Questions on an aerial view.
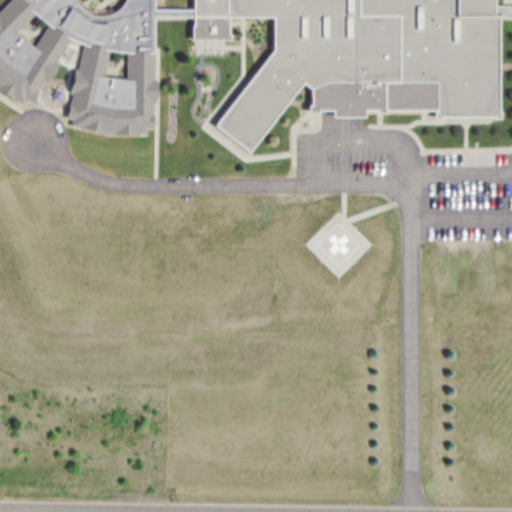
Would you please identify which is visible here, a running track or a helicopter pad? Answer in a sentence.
Of the two, only a helicopter pad appears.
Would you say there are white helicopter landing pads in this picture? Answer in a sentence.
Yes, there's a white helicopter landing pad down there.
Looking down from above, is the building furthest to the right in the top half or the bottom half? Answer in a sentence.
Seen from above, the building furthest to the right lies in the top half of the view.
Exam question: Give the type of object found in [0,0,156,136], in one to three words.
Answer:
house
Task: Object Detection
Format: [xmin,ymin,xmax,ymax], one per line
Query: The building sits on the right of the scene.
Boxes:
[195,0,504,154]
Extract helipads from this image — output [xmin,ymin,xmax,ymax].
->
[306,212,372,278]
